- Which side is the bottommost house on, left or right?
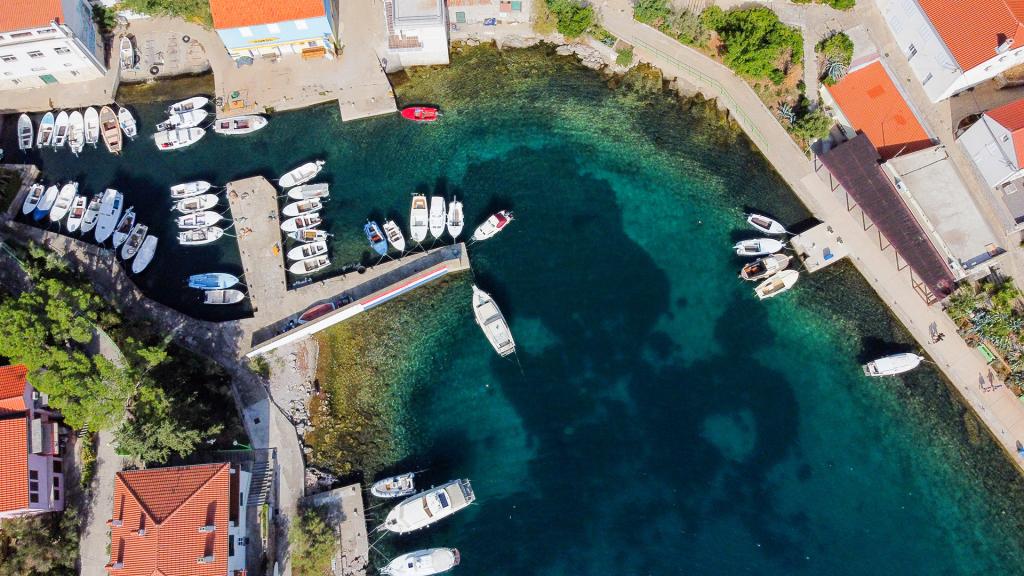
left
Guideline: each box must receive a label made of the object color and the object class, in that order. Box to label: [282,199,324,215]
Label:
white boat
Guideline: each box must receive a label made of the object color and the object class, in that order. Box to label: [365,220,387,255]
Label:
blue boat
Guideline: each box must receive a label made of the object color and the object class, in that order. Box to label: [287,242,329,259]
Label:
white boat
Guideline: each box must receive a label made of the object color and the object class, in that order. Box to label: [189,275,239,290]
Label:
blue boat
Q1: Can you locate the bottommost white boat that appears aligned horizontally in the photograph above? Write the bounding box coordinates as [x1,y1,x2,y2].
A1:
[376,544,464,576]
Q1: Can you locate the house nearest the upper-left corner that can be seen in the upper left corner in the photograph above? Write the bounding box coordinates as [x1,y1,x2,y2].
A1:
[0,0,107,89]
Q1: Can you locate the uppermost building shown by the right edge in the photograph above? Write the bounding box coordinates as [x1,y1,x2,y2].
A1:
[876,0,1024,102]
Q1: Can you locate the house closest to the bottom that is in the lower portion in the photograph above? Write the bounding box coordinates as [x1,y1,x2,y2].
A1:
[107,462,253,576]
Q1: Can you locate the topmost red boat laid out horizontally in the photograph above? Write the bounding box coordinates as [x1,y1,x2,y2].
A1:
[401,108,439,121]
